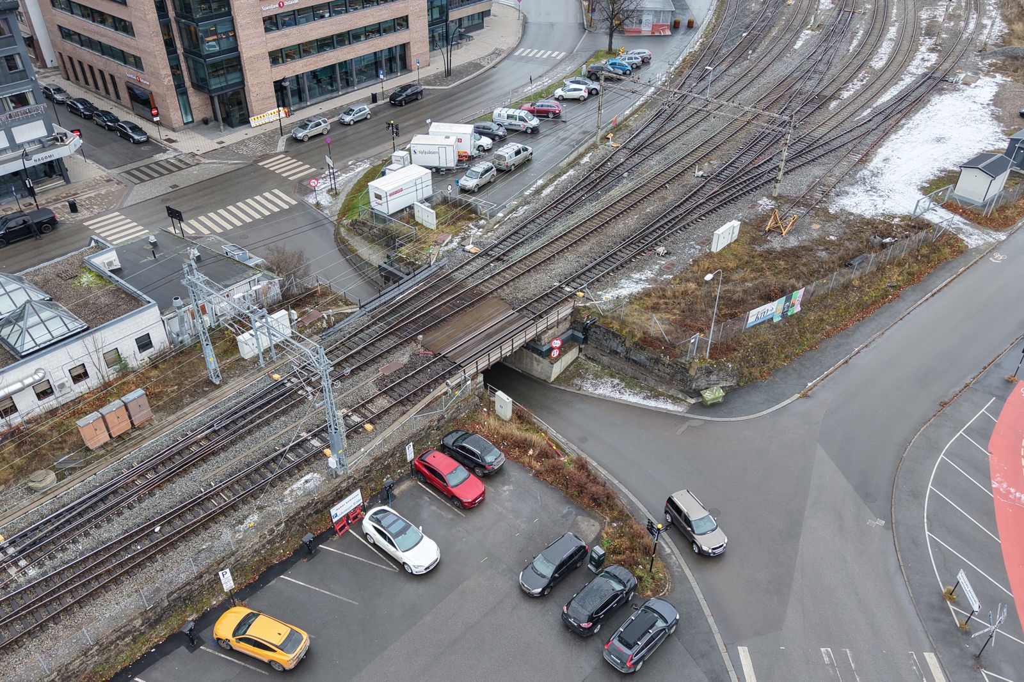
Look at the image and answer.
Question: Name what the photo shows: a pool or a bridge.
bridge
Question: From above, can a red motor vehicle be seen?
Yes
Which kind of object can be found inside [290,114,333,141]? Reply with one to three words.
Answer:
car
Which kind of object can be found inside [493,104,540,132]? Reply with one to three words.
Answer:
van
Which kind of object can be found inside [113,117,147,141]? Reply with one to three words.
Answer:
car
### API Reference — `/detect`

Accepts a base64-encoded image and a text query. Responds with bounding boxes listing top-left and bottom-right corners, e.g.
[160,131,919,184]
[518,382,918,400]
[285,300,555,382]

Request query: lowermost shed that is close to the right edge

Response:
[952,156,1017,211]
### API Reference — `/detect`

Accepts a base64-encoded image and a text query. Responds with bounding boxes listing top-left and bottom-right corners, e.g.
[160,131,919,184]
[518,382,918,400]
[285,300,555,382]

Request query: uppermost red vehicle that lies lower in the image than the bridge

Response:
[412,449,486,509]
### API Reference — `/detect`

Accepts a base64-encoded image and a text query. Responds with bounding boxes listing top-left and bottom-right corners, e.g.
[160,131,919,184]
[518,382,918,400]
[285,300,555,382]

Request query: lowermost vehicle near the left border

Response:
[0,208,60,248]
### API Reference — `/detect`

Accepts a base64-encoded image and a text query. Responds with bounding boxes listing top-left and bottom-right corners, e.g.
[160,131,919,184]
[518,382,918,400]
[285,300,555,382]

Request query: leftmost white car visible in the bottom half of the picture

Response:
[358,505,442,576]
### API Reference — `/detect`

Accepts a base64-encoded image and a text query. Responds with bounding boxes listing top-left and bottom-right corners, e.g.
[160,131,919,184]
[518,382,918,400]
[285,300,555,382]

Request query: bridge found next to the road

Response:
[319,246,576,426]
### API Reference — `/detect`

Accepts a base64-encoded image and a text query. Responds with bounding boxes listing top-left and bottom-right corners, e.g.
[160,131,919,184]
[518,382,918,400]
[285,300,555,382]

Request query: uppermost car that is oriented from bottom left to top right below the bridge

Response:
[514,528,593,599]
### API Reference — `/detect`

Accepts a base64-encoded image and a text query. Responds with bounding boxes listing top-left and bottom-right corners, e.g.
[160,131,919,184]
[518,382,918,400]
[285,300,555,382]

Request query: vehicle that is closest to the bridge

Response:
[440,430,507,476]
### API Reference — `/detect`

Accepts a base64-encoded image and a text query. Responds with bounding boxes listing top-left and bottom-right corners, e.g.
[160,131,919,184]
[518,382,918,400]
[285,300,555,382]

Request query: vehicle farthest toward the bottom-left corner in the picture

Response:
[214,608,315,673]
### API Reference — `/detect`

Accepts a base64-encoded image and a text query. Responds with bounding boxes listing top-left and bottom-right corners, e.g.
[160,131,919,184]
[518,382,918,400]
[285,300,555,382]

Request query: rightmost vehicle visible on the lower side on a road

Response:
[661,487,729,557]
